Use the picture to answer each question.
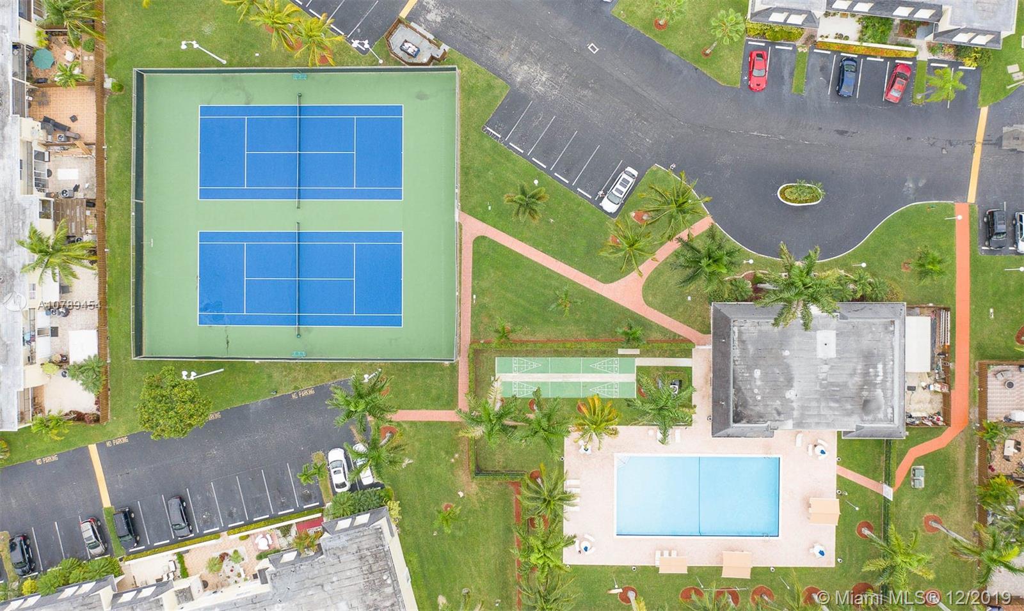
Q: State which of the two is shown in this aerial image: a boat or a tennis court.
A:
tennis court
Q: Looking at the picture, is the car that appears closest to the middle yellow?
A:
No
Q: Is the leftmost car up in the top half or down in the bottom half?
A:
bottom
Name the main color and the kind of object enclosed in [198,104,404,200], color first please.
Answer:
blue tennis court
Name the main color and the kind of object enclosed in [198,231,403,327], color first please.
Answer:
blue tennis court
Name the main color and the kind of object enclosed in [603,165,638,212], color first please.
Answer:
white car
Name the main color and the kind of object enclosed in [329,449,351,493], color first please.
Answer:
white car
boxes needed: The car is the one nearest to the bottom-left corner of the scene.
[3,536,33,579]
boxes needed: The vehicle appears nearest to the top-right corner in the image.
[885,61,911,103]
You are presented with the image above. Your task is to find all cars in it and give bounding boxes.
[985,209,1010,249]
[1014,211,1024,253]
[885,61,911,103]
[108,509,139,553]
[77,517,106,560]
[164,497,192,541]
[837,55,861,96]
[329,449,351,493]
[603,165,638,212]
[3,536,33,579]
[748,50,769,91]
